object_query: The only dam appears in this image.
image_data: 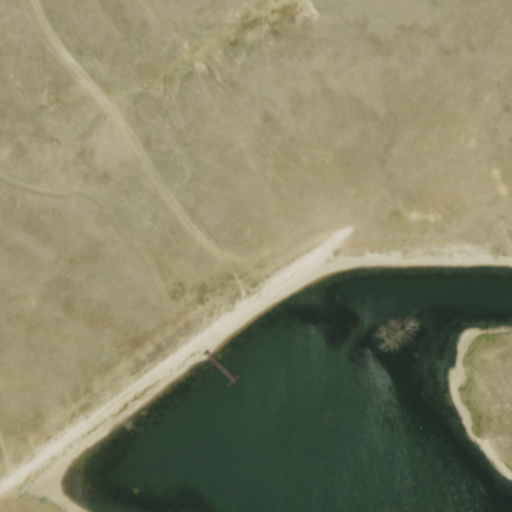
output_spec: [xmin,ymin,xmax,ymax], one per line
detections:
[0,228,350,512]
